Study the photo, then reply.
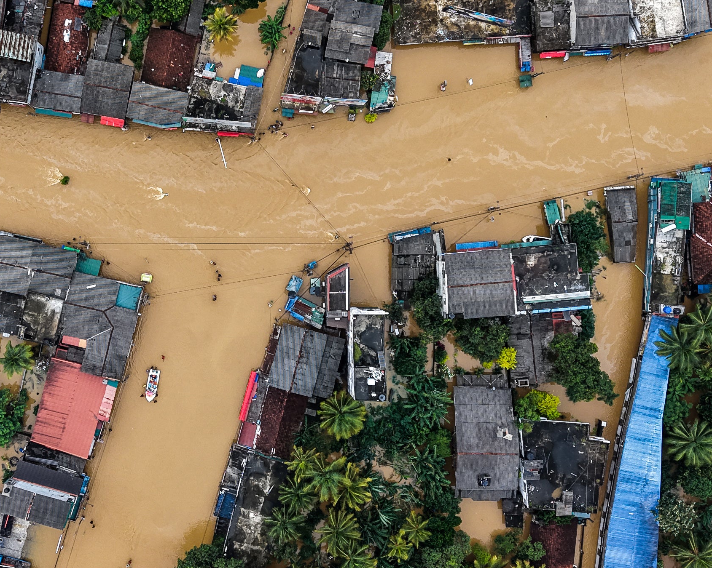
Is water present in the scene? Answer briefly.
Yes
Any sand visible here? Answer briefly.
No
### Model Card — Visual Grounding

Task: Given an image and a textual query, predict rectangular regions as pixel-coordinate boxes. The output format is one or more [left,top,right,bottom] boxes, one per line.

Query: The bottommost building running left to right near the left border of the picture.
[0,487,82,531]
